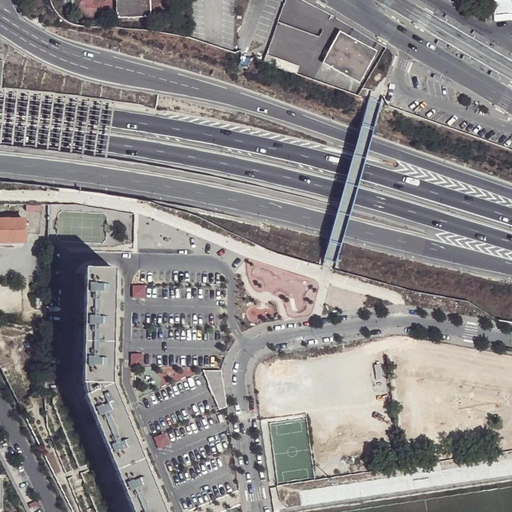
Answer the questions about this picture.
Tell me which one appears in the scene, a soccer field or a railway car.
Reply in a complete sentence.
Of the two, only a soccer field appears.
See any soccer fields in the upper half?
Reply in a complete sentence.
No, there's no soccer field to be seen in the upper half.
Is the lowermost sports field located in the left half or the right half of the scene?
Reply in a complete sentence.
The lowermost sports field is on the right side of the image.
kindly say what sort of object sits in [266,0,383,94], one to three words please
building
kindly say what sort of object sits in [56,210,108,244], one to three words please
sports court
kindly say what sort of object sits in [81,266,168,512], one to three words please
building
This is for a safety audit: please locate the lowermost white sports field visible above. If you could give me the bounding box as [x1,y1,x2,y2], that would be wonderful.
[286,460,512,512]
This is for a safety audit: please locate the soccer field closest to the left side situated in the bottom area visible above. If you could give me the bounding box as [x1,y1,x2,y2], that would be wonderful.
[260,414,316,488]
